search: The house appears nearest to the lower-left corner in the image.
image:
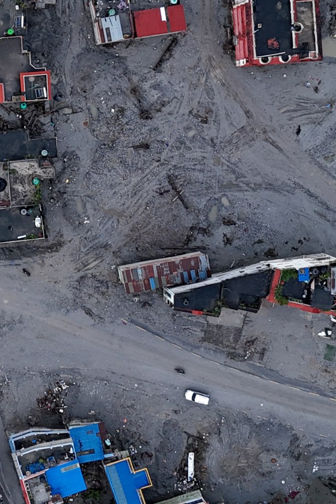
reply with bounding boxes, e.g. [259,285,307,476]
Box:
[9,426,87,504]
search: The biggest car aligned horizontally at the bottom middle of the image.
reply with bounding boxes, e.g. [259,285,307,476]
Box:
[185,390,213,407]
